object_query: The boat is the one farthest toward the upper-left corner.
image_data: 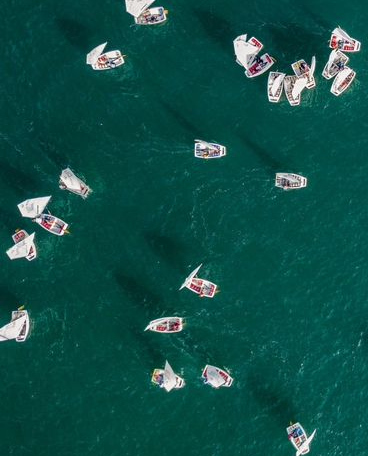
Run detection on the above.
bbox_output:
[85,41,130,71]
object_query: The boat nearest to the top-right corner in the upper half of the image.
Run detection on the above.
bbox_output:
[327,27,362,52]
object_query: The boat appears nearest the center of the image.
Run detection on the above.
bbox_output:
[179,262,223,298]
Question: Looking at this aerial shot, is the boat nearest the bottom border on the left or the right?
right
